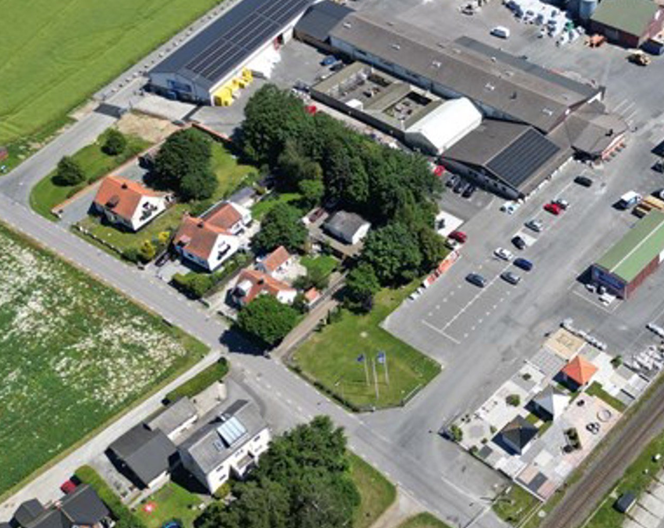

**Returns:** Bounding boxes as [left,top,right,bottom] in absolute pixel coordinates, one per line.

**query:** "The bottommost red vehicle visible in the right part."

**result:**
[446,228,468,245]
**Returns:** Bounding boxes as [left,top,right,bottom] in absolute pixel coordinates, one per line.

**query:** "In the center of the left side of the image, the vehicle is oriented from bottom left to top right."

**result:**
[151,250,173,267]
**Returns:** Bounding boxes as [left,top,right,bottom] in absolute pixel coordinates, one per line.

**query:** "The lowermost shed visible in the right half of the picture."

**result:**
[617,492,635,521]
